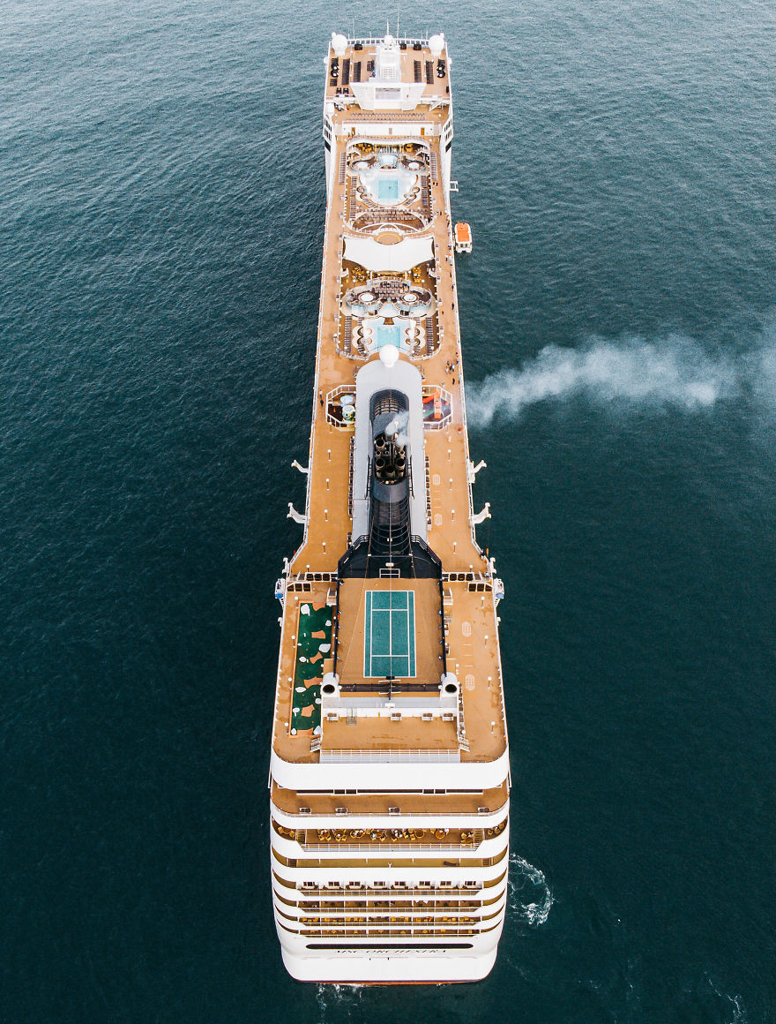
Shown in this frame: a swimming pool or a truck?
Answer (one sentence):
The one in the frame is a swimming pool.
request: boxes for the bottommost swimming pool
[376,322,403,354]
